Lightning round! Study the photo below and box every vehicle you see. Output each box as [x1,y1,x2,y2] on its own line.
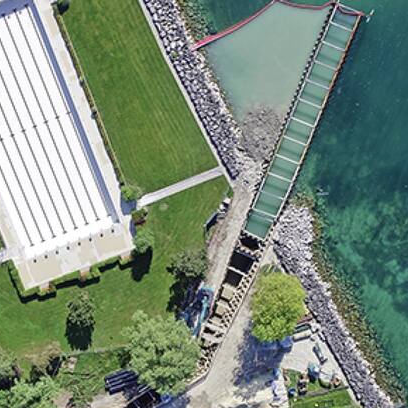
[188,292,213,344]
[313,344,328,365]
